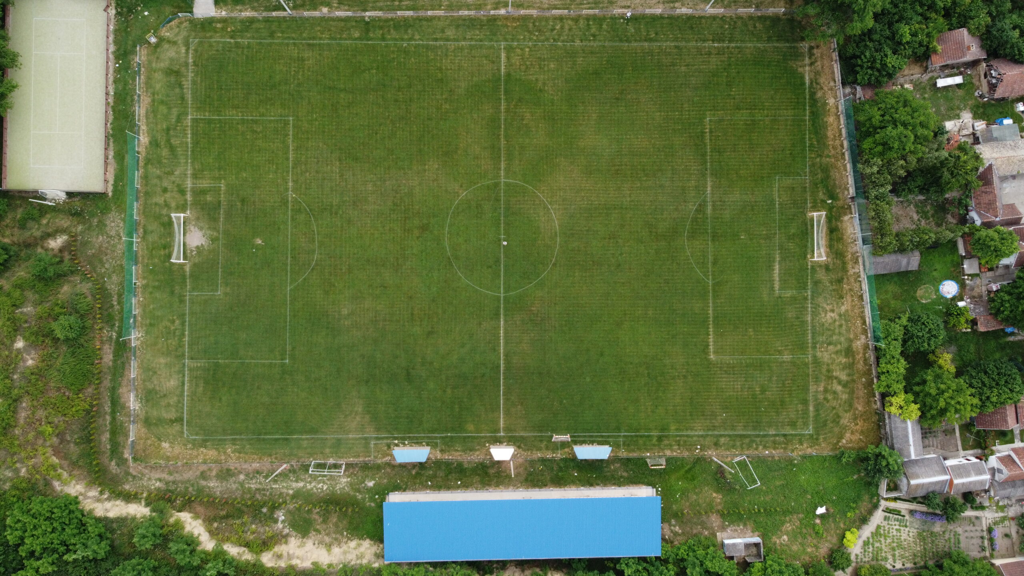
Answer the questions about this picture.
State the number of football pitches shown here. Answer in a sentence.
There is 1 football pitch in the image.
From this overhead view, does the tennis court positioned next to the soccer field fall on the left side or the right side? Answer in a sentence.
You can find the tennis court positioned next to the soccer field on the left side of the picture.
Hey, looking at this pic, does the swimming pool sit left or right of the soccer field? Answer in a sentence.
Relative to the soccer field, the swimming pool is on the right.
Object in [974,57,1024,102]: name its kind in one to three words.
house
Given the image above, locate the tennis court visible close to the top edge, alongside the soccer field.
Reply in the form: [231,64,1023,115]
[6,0,109,193]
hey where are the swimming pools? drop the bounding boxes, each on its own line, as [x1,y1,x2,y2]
[939,279,962,299]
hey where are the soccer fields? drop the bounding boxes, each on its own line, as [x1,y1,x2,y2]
[133,13,881,465]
